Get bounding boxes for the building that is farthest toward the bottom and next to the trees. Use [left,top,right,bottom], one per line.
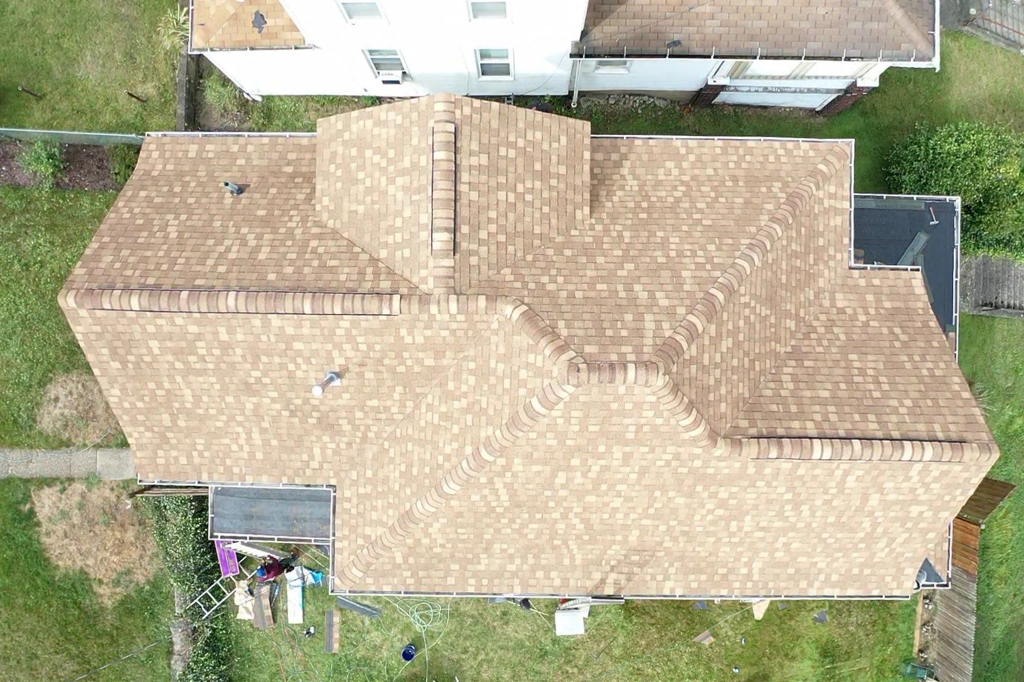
[62,93,996,603]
